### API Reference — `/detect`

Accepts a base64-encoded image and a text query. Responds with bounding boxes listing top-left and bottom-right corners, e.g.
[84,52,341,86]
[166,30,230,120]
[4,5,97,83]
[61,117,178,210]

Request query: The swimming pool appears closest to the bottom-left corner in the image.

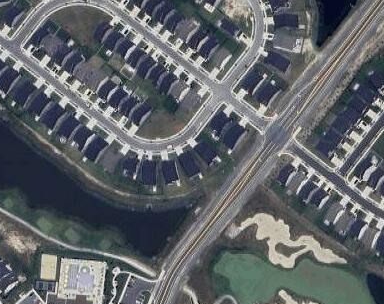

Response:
[58,258,106,304]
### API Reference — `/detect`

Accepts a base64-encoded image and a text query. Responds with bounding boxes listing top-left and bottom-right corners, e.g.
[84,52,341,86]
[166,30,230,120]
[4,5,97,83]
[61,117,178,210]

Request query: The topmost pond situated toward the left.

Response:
[0,113,189,259]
